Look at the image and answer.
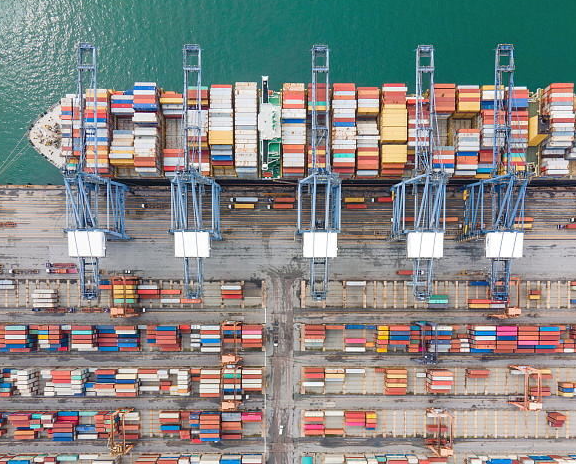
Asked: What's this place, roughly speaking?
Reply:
port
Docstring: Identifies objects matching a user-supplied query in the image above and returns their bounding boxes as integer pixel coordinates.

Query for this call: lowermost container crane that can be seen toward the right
[425,409,456,459]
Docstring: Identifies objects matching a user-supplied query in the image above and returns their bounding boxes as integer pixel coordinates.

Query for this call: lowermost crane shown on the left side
[109,409,137,458]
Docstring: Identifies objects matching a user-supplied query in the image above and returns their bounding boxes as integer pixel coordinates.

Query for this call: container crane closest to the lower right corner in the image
[507,366,543,413]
